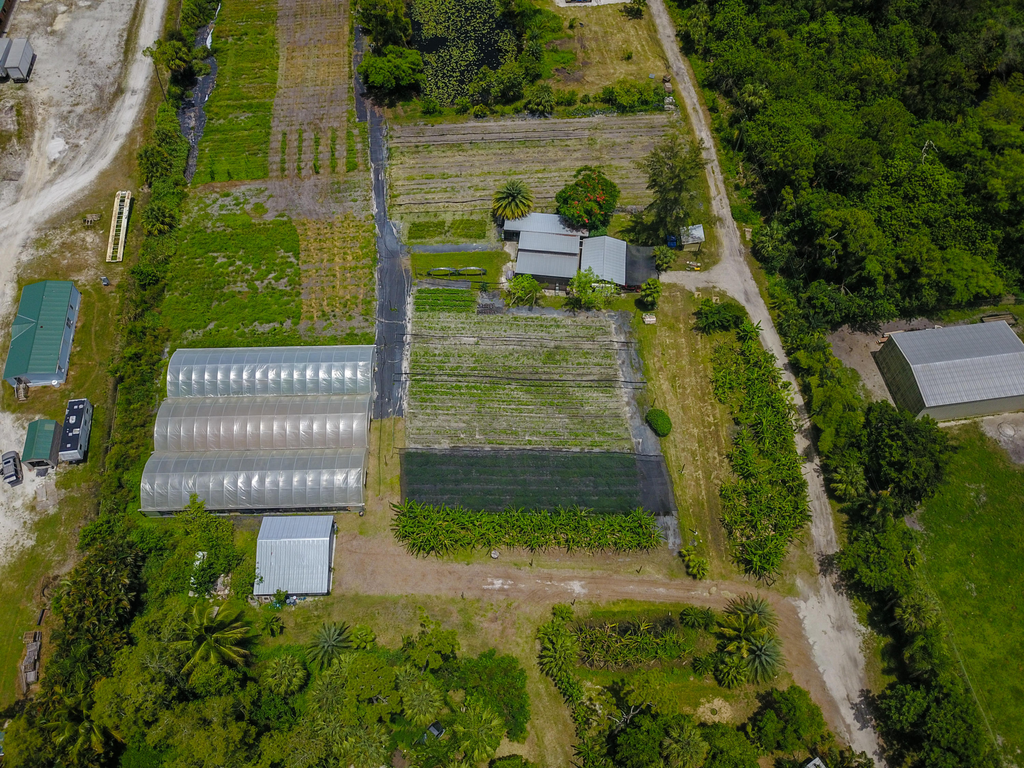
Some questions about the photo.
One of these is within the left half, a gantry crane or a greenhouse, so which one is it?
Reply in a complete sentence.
Looking within the left half, you will find a greenhouse.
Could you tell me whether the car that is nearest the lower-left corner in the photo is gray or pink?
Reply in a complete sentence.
The color of the car that is nearest the lower-left corner is gray.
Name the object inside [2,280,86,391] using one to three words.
house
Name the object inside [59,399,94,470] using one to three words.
camper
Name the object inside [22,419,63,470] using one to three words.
shed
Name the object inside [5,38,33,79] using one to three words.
trailer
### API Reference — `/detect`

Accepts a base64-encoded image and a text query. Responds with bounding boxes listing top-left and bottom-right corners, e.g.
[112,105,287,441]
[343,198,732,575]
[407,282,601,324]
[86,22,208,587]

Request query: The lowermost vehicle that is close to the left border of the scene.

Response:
[0,449,20,488]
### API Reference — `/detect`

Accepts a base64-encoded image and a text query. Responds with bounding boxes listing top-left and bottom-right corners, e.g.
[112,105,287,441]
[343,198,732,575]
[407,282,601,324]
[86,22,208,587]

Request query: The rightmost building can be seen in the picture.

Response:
[880,320,1024,419]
